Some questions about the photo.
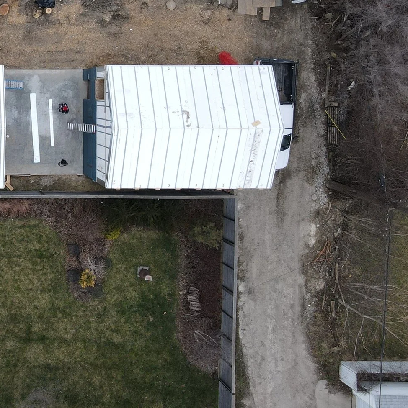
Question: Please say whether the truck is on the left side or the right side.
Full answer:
The truck appears in the right half of the scene.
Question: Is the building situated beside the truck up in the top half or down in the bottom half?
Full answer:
The building situated beside the truck is in the top half of the image.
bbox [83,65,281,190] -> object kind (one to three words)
building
